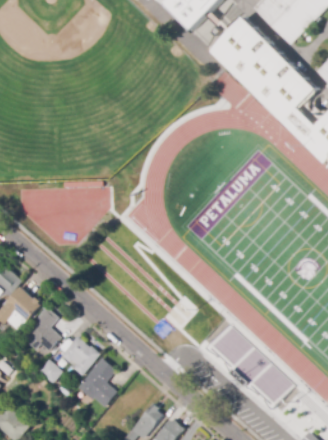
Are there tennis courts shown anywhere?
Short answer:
No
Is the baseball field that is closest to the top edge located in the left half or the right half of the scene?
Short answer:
left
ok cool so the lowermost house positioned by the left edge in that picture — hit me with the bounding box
[0,410,29,440]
